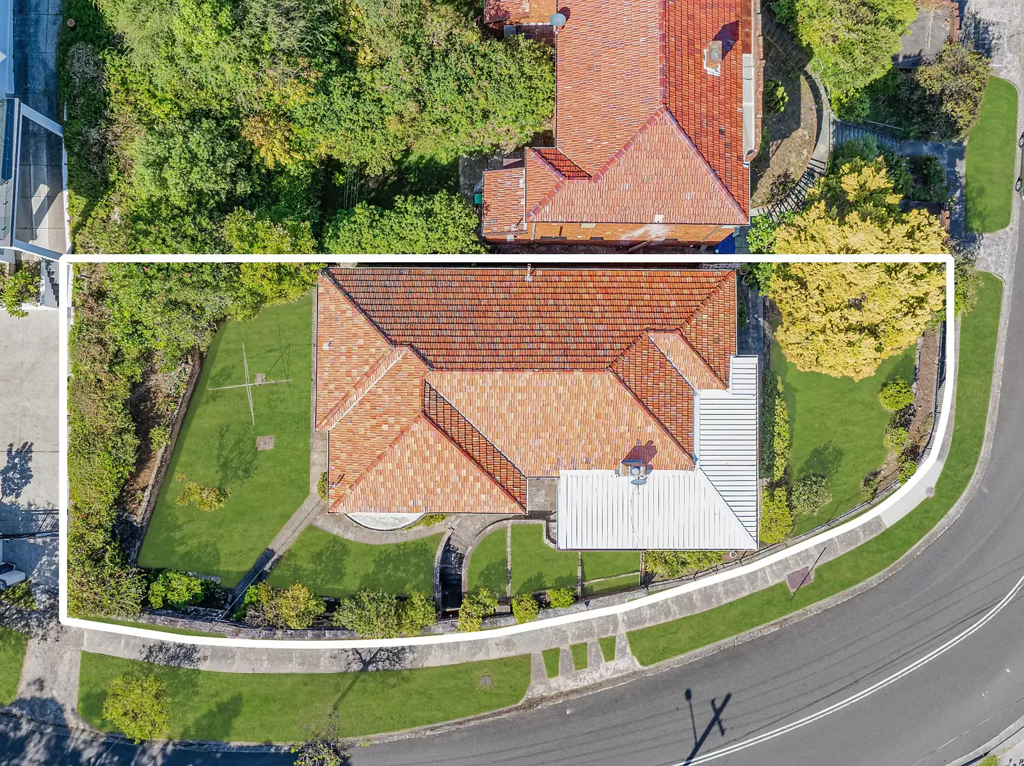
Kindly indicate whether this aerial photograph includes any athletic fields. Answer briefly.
No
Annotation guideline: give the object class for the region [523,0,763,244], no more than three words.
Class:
house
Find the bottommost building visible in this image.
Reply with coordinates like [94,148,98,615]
[313,265,760,552]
